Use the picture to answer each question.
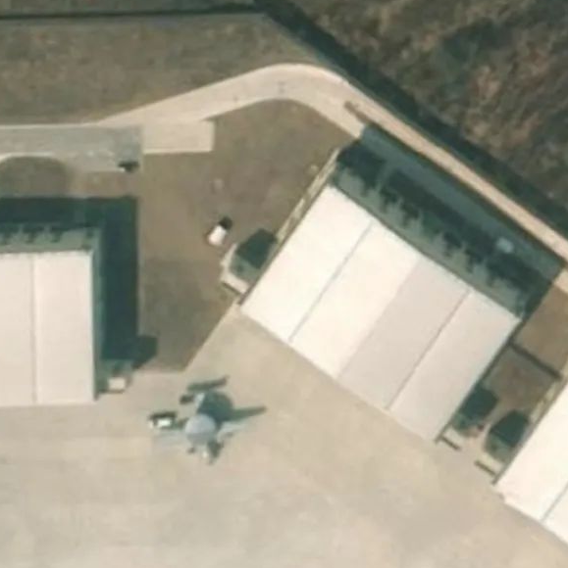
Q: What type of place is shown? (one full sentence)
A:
This image shows an airport.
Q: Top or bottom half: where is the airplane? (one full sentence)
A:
The airplane is in the bottom half of the image.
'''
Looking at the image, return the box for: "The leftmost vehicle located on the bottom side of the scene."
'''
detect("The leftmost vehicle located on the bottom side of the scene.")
[150,415,174,428]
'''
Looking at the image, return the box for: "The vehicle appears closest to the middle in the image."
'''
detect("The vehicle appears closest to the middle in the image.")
[210,219,229,242]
